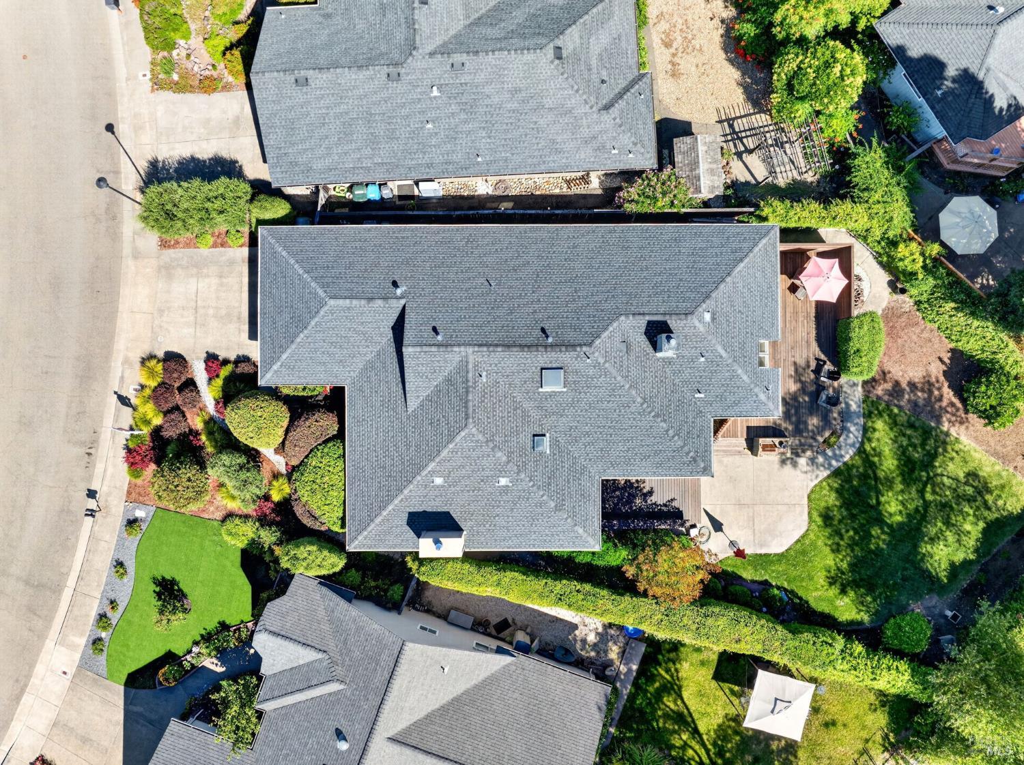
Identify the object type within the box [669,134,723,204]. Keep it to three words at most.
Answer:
shed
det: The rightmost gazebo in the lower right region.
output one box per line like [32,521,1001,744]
[728,660,814,741]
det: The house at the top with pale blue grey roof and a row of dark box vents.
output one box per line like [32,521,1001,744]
[251,0,660,191]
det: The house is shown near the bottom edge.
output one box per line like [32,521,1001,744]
[148,571,610,765]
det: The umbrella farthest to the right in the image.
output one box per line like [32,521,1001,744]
[934,196,998,254]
